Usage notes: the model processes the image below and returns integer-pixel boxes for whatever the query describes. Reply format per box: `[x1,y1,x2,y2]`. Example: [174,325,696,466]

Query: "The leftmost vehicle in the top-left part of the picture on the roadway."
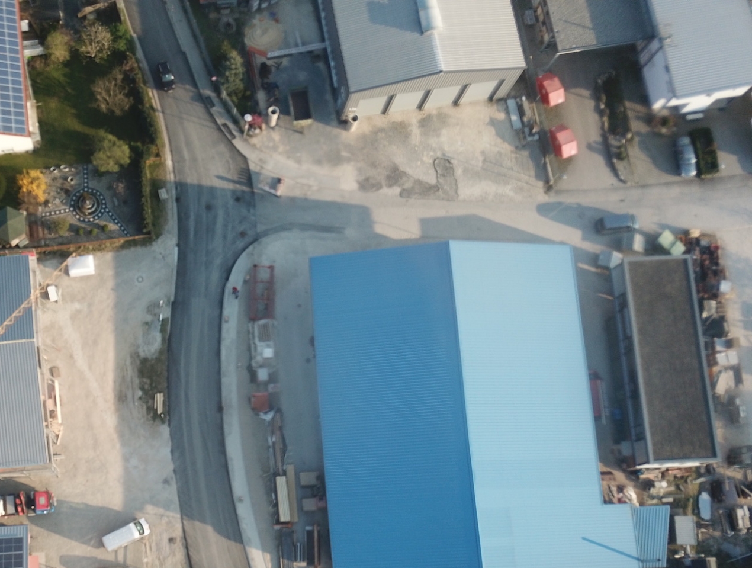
[157,58,177,92]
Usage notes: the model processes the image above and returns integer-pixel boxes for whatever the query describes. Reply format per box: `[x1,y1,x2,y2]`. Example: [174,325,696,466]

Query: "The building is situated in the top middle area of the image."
[322,0,527,118]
